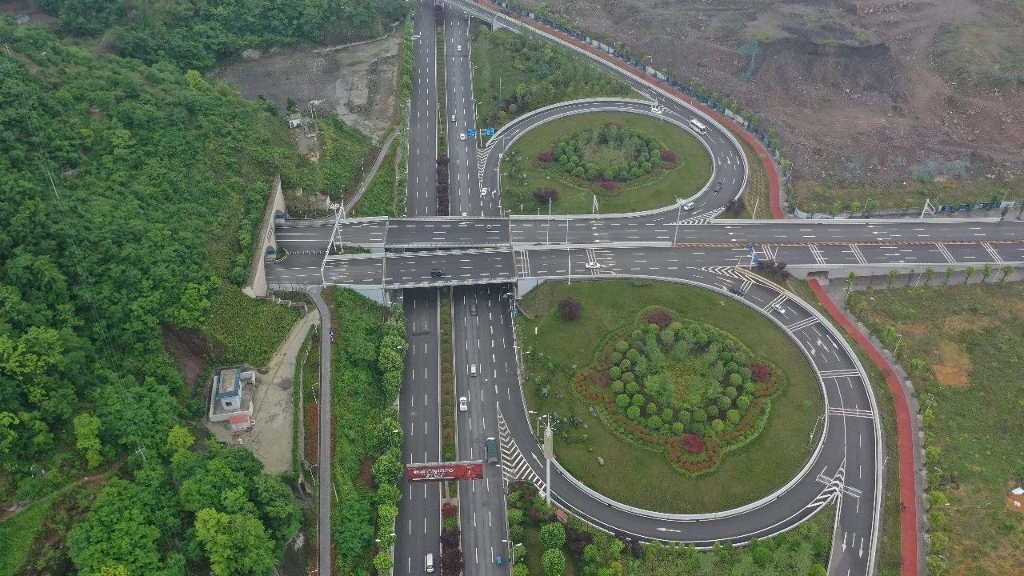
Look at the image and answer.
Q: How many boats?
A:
none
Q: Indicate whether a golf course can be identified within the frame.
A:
No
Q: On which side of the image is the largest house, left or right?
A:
left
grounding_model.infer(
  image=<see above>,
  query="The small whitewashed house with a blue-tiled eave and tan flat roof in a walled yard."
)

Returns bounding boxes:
[214,370,246,414]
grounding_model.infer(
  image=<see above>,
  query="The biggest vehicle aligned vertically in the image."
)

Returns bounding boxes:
[486,434,498,466]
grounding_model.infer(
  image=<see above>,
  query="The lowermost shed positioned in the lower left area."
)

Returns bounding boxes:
[229,413,251,432]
